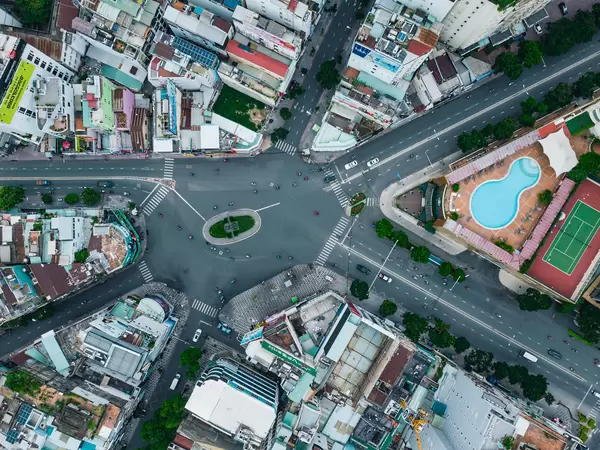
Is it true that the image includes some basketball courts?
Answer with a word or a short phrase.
No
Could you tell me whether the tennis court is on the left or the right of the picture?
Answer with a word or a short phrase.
right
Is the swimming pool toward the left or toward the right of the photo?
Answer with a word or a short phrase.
right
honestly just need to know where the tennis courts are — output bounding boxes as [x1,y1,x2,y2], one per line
[524,178,600,301]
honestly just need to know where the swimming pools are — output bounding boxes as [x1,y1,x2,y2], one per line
[468,155,544,231]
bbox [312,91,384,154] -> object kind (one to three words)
building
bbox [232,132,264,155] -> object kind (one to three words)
building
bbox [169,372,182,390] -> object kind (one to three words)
vehicle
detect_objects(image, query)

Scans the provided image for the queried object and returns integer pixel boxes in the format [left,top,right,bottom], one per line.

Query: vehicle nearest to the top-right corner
[558,1,570,16]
